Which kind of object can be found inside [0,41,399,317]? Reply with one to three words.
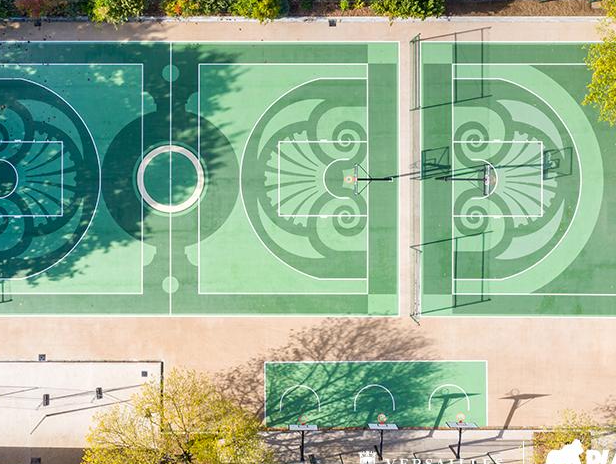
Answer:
basketball court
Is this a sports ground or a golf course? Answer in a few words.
sports ground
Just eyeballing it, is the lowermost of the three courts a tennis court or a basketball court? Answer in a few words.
basketball court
